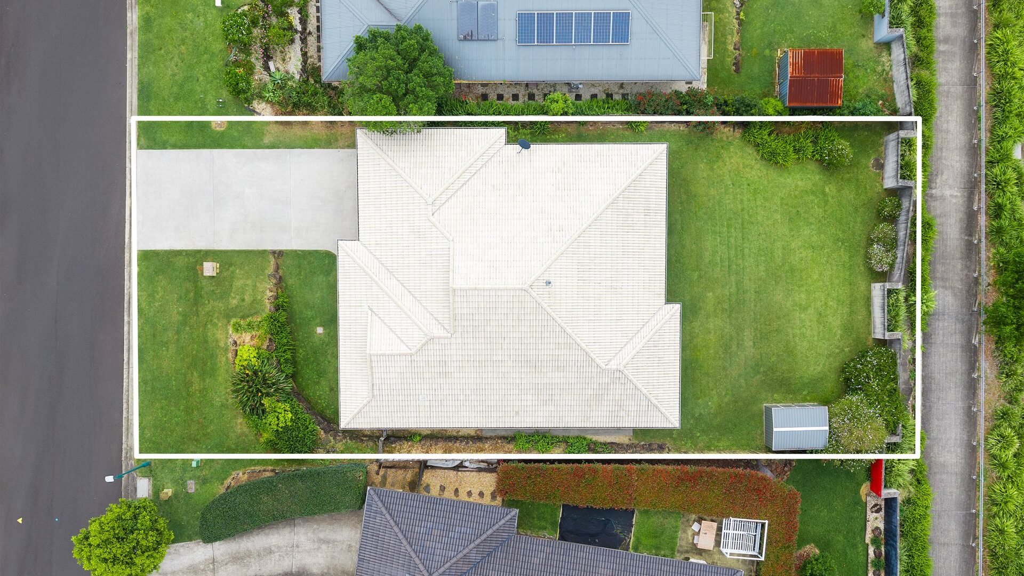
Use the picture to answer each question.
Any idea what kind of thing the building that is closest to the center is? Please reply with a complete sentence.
The building that is closest to the center in the image is a home.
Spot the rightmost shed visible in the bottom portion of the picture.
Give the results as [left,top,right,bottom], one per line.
[765,403,831,451]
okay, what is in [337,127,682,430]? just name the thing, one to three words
house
